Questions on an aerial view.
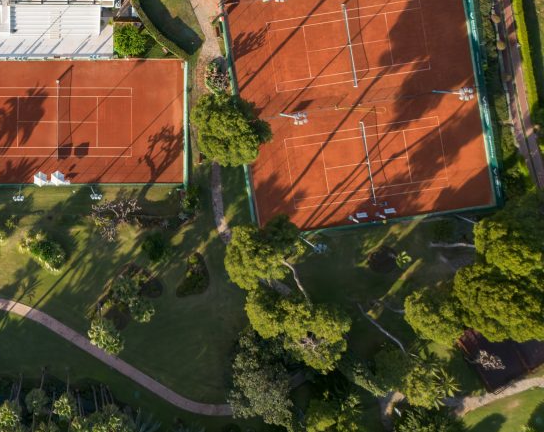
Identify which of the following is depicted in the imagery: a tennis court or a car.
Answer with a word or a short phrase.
tennis court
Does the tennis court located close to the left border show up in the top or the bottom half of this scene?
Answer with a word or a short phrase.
top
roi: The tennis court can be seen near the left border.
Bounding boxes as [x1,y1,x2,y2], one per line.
[0,60,185,184]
